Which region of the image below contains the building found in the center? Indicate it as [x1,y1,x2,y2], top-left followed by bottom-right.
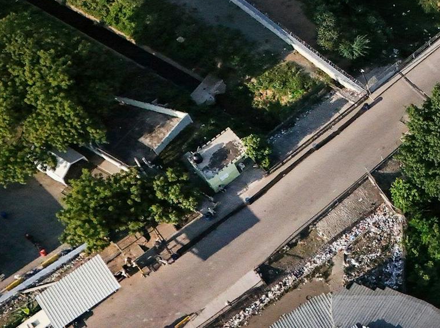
[186,127,250,195]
